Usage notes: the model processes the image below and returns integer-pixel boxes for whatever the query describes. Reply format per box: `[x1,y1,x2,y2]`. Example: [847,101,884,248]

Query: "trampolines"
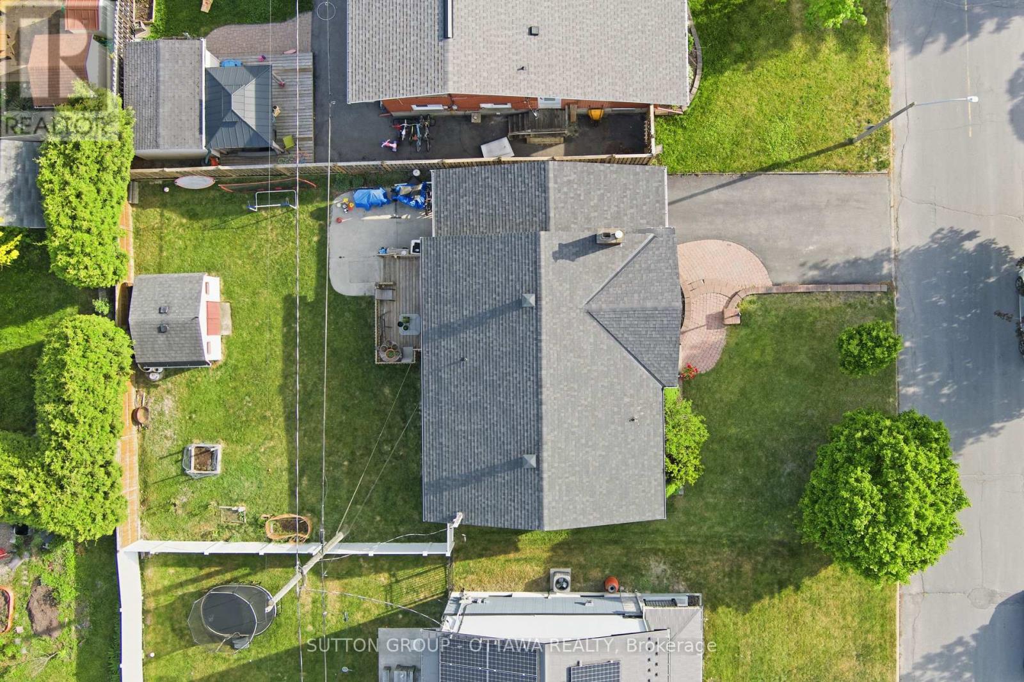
[188,579,281,655]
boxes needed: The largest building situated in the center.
[419,230,683,531]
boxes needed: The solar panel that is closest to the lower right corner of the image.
[571,659,619,682]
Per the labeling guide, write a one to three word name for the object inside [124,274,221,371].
shed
